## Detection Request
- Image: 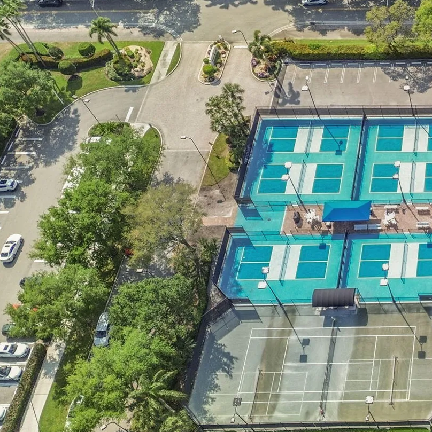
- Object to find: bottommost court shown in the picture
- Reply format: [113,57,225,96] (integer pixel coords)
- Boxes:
[189,303,432,426]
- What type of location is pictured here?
sports ground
